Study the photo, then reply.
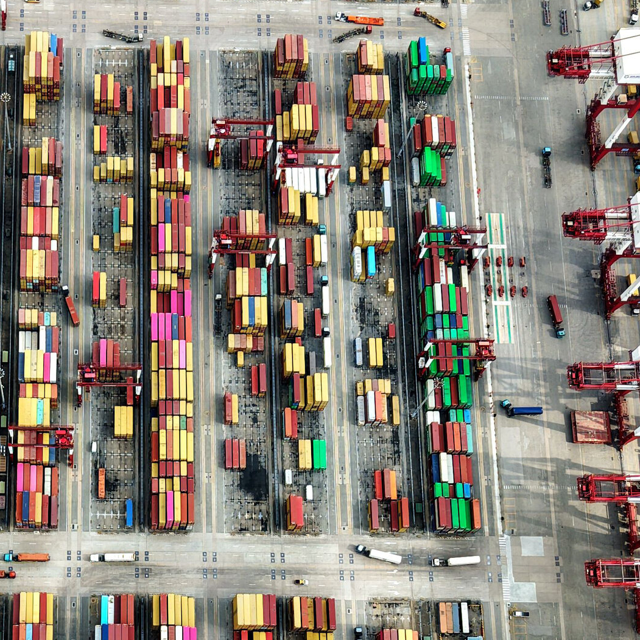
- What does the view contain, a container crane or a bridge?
container crane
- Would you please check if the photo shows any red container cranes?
Yes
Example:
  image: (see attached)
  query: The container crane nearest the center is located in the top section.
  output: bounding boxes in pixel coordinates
[208,230,277,280]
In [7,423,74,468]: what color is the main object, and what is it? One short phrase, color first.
red container crane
